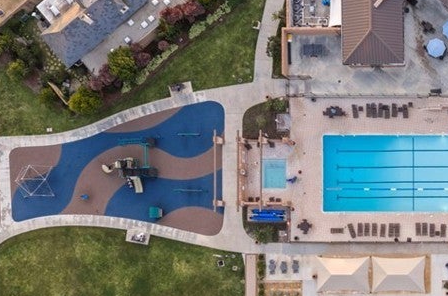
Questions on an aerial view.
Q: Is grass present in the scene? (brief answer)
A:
Yes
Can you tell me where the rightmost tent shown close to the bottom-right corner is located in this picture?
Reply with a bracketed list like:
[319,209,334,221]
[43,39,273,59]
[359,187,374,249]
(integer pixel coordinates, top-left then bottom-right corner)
[372,256,428,293]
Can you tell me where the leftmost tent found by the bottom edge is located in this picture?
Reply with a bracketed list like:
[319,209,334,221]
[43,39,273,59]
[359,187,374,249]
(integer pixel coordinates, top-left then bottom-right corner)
[317,256,372,293]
